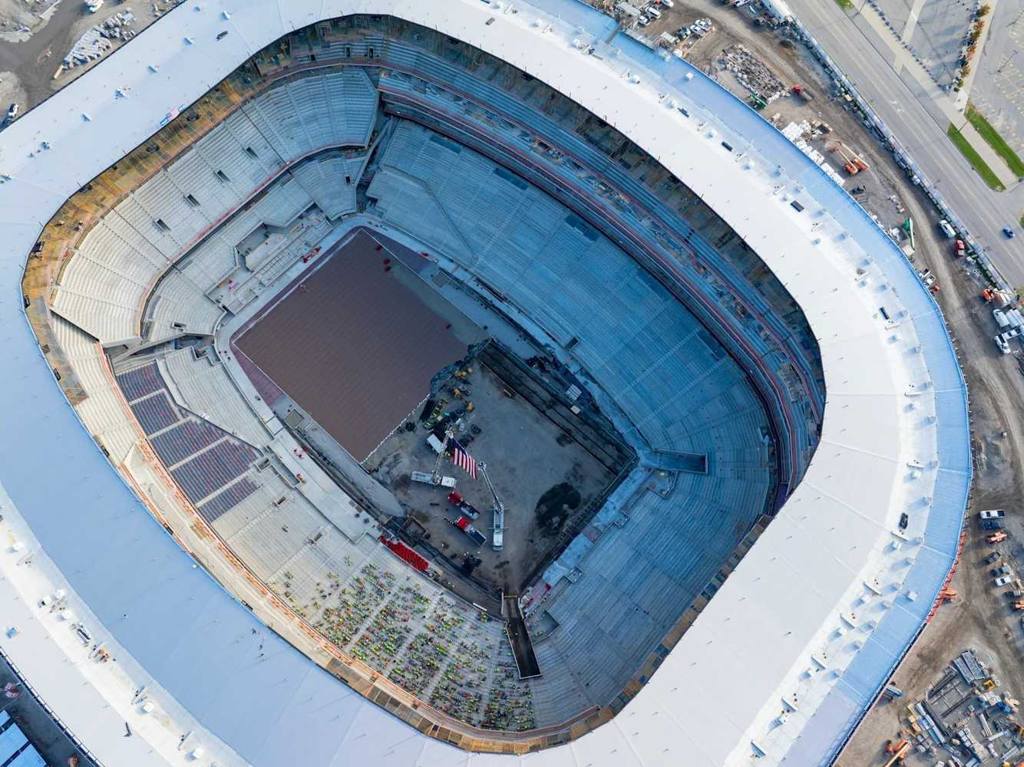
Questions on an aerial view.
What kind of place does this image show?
sports ground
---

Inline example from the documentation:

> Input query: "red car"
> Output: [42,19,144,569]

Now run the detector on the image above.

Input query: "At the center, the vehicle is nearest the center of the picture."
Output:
[502,385,518,401]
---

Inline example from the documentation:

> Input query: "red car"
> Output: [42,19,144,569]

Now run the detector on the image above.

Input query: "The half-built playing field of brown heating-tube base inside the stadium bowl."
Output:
[228,222,490,461]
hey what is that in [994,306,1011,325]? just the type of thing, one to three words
vehicle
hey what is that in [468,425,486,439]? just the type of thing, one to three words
work vehicle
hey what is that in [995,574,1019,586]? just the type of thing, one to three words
vehicle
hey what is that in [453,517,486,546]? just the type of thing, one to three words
truck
